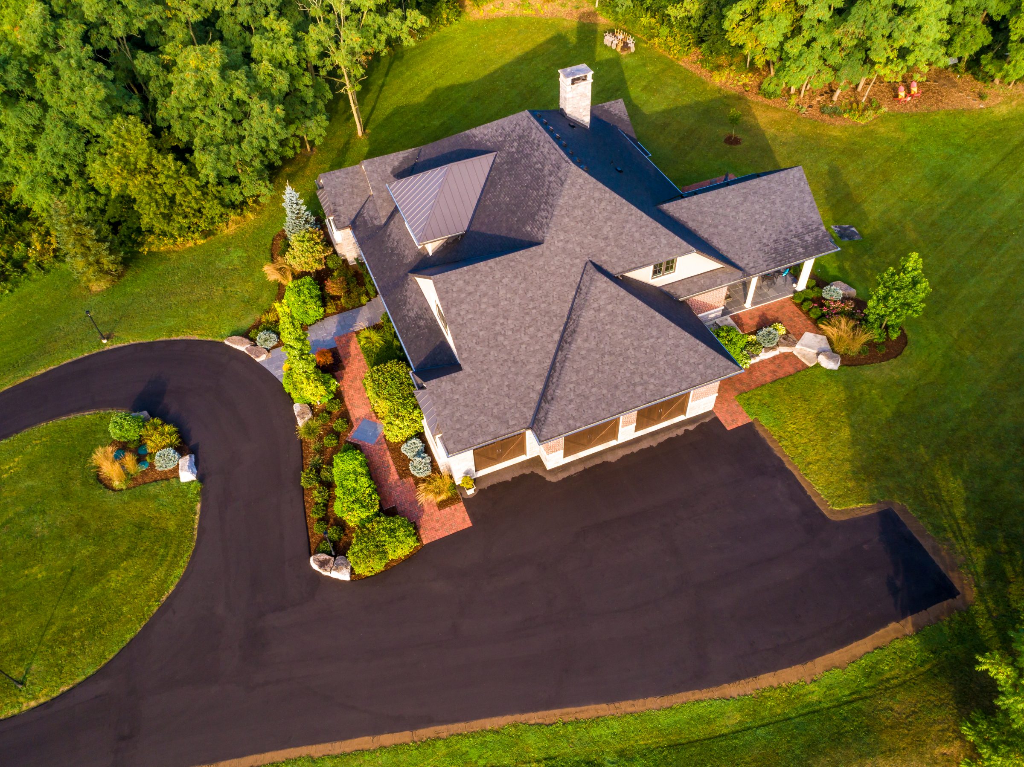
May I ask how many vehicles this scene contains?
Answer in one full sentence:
The picture shows no vehicles.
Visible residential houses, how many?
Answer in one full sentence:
The picture shows just 1 residential house.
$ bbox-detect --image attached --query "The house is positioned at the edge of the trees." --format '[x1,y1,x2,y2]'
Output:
[303,64,843,486]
